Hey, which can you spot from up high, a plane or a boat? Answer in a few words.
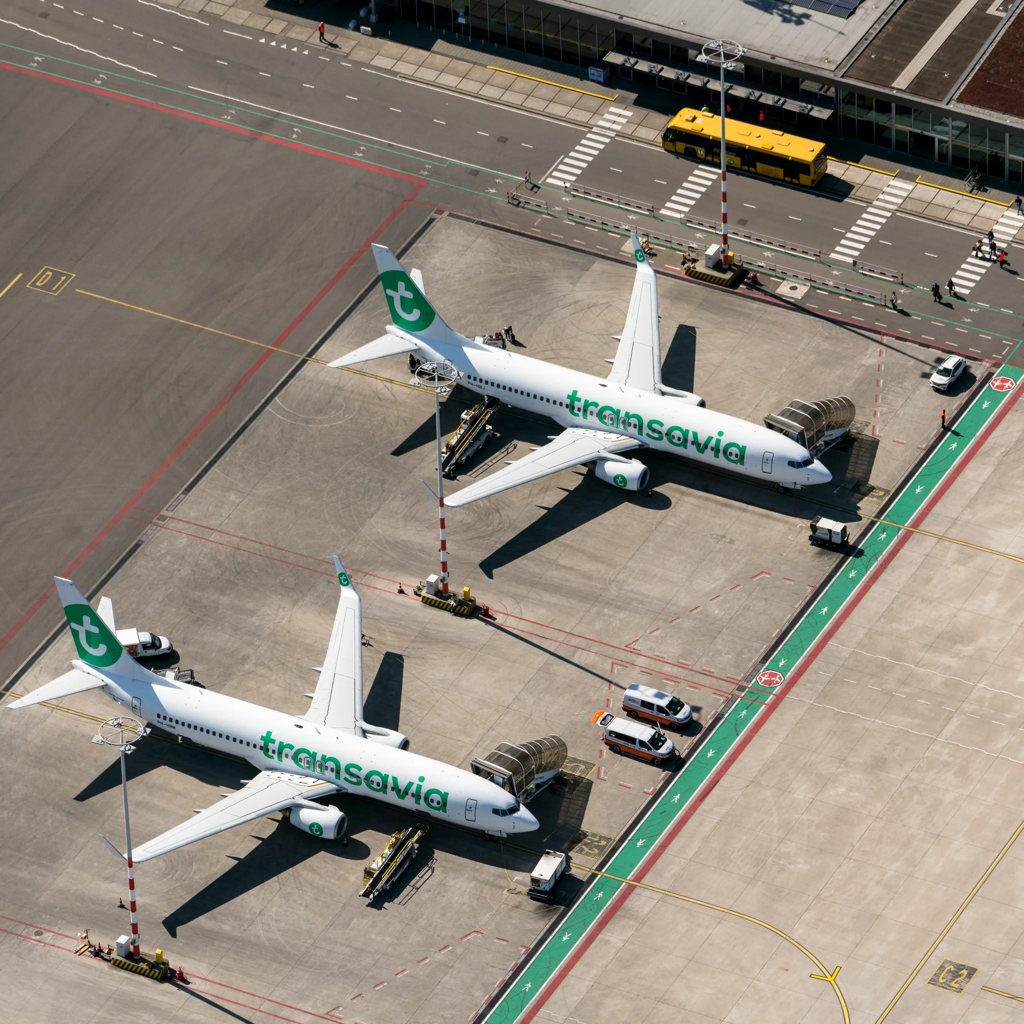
plane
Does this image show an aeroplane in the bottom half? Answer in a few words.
Yes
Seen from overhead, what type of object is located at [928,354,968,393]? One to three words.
car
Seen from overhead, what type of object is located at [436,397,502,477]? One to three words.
work vehicle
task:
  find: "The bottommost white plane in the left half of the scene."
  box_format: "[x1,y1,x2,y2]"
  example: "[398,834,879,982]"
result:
[7,556,539,859]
